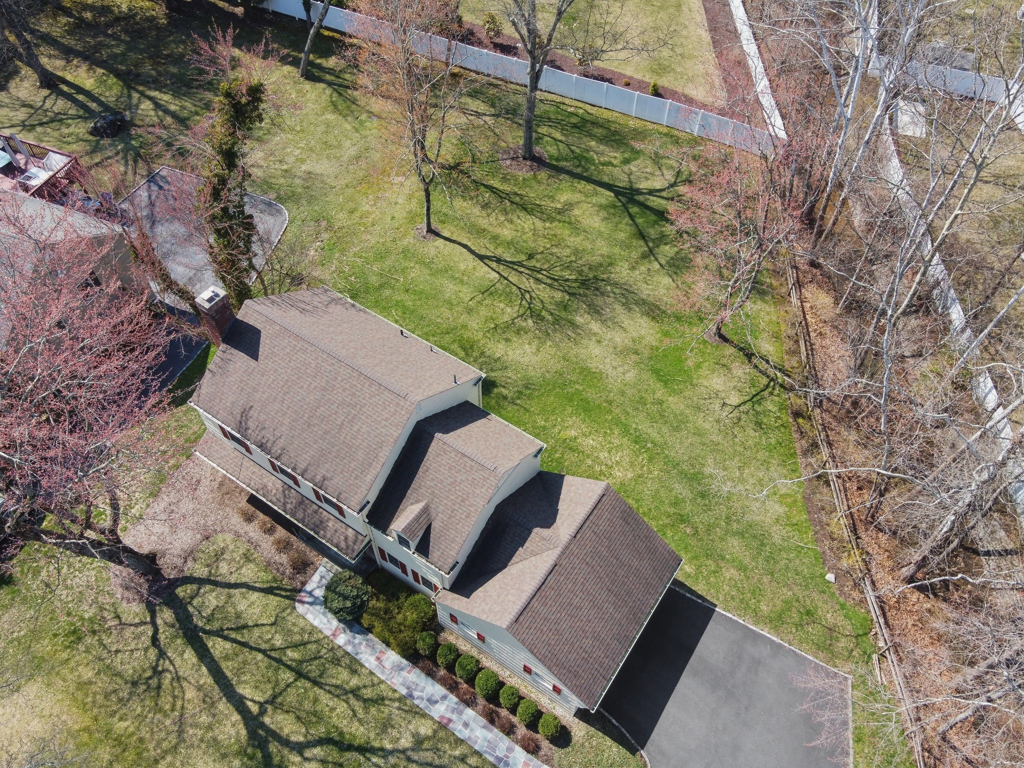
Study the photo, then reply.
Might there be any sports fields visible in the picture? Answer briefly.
No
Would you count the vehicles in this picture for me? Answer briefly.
0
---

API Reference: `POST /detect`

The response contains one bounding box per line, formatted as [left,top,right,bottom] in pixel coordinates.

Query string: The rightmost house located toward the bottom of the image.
[188,284,685,717]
